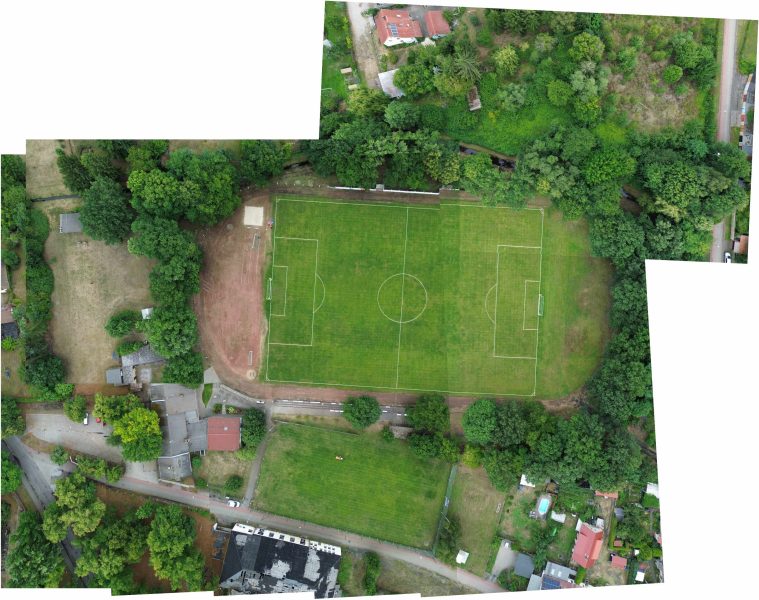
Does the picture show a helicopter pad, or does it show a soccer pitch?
soccer pitch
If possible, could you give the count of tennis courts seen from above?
0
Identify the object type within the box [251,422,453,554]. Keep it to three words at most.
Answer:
sports field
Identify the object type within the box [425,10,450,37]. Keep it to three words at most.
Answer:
building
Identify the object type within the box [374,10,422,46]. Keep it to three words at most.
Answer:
house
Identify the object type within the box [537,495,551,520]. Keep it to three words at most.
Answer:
swimming pool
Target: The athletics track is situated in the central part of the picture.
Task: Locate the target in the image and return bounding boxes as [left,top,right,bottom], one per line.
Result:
[196,188,614,407]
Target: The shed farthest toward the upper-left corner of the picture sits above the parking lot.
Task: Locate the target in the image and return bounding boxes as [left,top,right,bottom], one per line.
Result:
[60,213,85,233]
